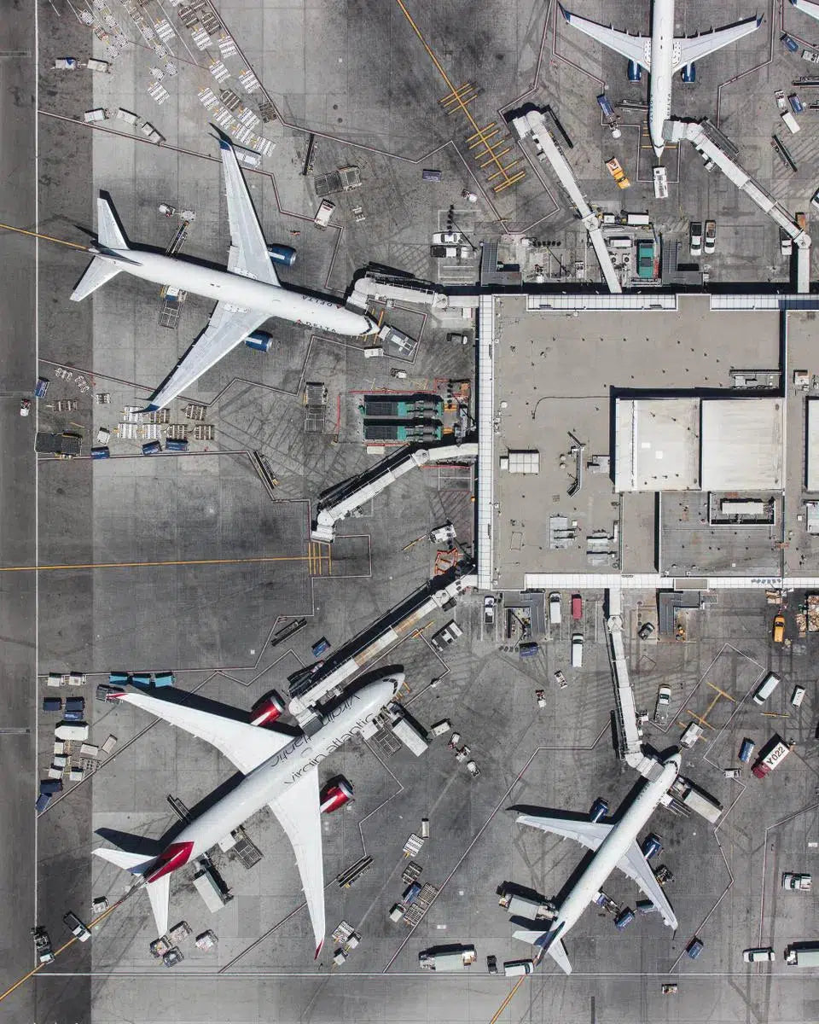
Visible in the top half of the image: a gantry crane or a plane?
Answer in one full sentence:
The one visible in the top half of the image is a plane.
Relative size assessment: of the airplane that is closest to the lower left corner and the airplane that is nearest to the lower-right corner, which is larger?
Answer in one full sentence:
Of the two, the airplane that is closest to the lower left corner is bigger, while the airplane that is nearest to the lower-right corner is smaller.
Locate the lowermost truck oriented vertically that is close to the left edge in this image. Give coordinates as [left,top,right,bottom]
[34,926,55,966]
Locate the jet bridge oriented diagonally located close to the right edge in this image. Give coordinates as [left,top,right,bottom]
[662,119,811,294]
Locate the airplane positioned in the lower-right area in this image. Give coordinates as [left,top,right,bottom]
[512,754,682,974]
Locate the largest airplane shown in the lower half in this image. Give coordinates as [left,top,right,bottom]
[92,673,405,961]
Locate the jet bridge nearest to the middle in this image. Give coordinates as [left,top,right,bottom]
[311,442,479,543]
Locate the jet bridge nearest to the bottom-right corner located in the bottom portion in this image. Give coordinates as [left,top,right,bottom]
[604,588,668,784]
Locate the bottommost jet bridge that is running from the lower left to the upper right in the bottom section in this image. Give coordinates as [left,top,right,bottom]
[287,570,479,737]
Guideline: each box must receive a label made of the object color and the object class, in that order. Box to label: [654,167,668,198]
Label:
white work vehicle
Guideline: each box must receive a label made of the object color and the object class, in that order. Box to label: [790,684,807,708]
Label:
white vehicle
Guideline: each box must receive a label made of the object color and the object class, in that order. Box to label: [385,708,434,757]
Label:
white truck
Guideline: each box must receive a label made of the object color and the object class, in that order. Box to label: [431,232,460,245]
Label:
white vehicle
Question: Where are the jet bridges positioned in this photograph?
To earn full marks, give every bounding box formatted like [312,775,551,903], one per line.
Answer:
[287,570,479,737]
[662,119,811,294]
[311,442,479,543]
[505,110,629,294]
[342,267,479,315]
[604,588,668,784]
